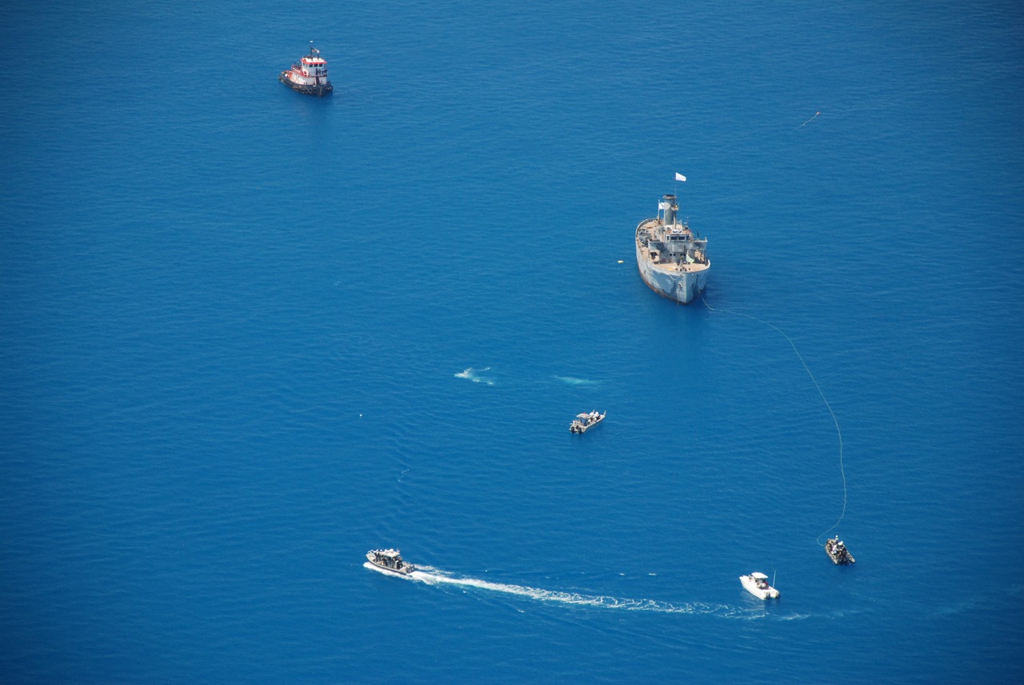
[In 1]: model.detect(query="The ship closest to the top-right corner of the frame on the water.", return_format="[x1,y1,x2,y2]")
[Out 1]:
[636,173,712,303]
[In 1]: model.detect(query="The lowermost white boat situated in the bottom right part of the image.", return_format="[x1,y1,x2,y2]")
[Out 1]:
[738,573,779,600]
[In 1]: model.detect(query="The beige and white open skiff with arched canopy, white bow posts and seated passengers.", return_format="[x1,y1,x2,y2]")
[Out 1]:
[569,409,605,434]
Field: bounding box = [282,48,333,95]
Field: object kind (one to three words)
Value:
boat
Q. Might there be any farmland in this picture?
No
